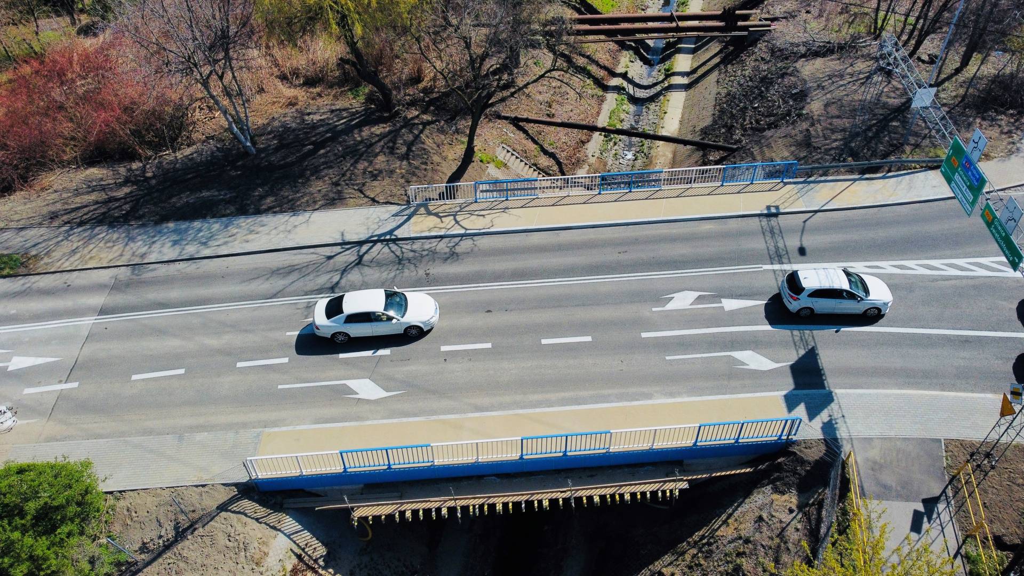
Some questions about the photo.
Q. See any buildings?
No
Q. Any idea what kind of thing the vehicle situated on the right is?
automobile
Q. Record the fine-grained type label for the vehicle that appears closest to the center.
automobile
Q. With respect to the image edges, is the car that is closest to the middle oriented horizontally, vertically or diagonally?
horizontally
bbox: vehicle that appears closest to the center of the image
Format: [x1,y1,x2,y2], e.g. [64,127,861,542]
[313,284,438,342]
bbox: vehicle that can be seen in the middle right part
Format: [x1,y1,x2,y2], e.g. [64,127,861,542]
[783,264,893,316]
